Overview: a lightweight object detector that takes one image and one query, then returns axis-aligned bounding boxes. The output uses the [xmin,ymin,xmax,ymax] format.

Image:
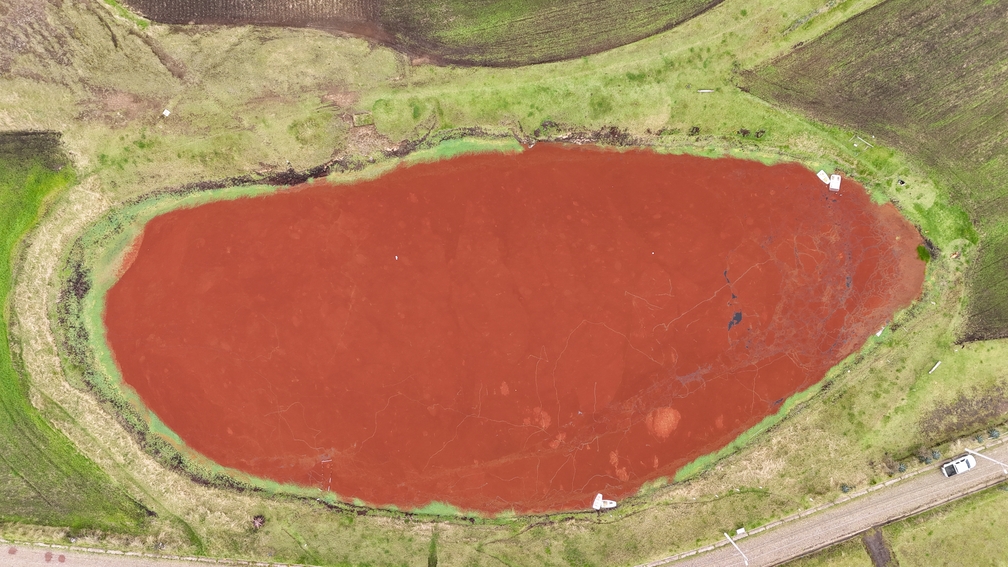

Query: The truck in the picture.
[941,456,976,479]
